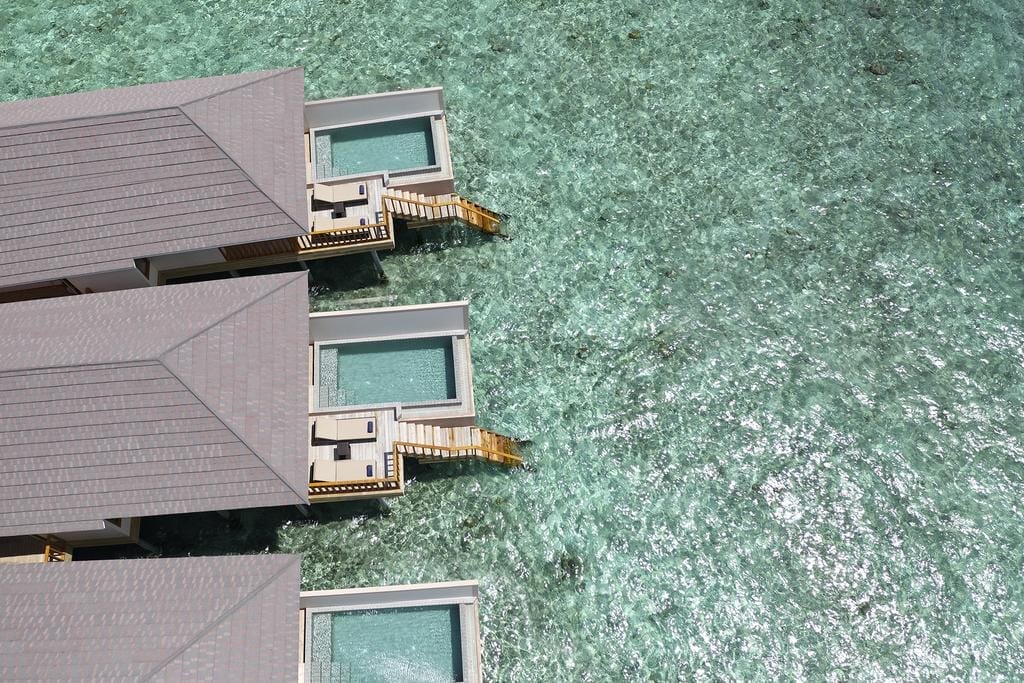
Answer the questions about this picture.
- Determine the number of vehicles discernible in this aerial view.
0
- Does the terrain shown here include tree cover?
No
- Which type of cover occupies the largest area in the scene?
water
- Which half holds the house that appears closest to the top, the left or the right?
left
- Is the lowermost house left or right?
left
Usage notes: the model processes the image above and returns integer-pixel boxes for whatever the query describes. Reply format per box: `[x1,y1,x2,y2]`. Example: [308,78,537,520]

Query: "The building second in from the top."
[0,270,310,553]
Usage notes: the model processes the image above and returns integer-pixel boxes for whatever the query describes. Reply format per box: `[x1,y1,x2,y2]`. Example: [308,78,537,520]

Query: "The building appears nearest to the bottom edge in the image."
[0,551,303,683]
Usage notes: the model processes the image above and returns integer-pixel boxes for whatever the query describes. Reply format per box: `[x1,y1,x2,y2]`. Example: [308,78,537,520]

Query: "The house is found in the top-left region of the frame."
[0,64,311,299]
